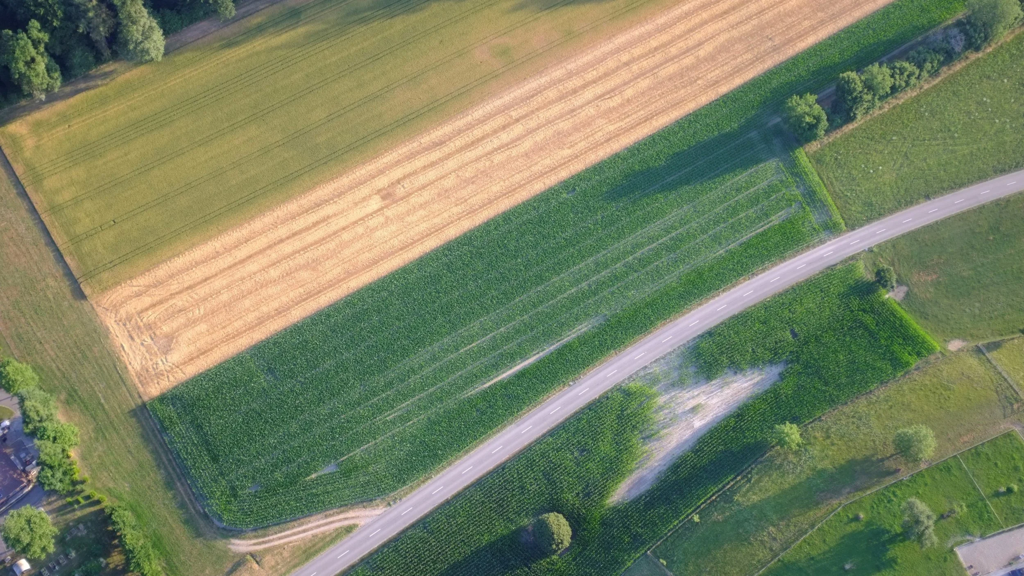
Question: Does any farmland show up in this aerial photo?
Yes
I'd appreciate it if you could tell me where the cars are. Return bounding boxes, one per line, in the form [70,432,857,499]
[0,426,9,438]
[0,415,11,428]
